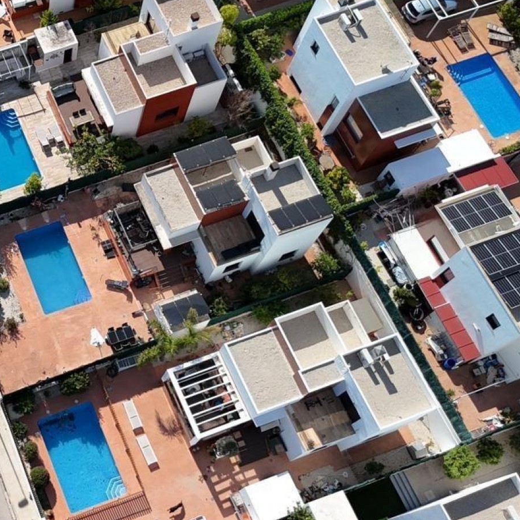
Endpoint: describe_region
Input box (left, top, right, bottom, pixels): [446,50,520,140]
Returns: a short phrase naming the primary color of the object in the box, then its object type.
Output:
blue swimming pool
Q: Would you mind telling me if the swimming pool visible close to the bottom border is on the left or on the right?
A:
left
